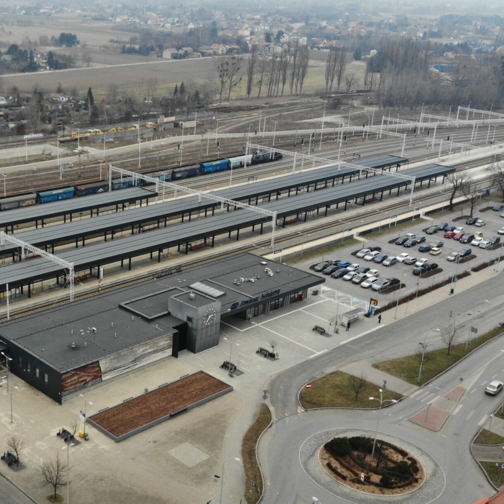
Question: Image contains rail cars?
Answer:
Yes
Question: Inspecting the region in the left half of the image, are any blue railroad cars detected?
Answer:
Yes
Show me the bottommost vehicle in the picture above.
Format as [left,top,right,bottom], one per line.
[482,382,504,396]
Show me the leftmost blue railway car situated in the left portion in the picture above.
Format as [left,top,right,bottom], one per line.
[36,186,75,203]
